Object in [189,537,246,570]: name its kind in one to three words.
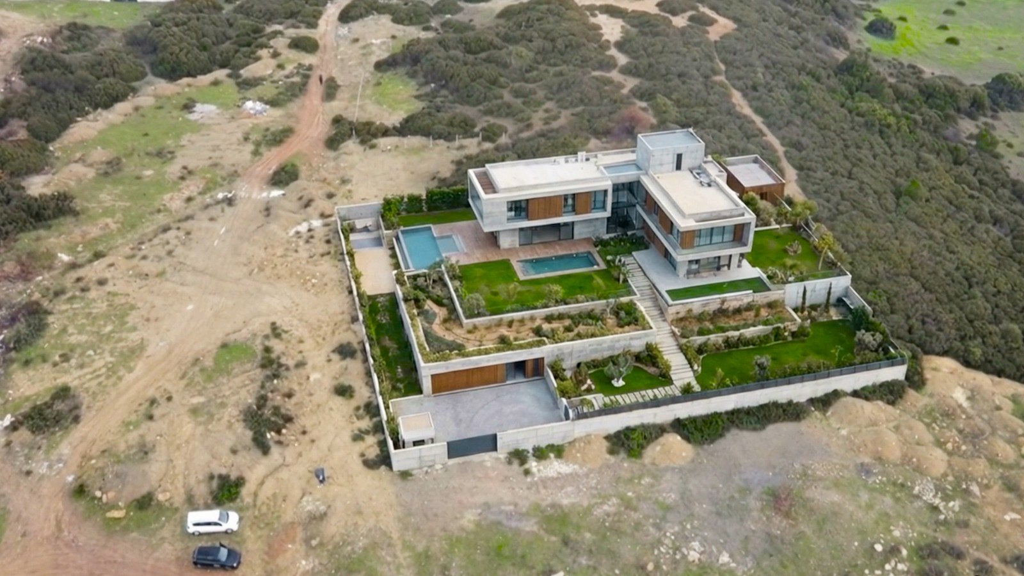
car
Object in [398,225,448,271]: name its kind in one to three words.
swimming pool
